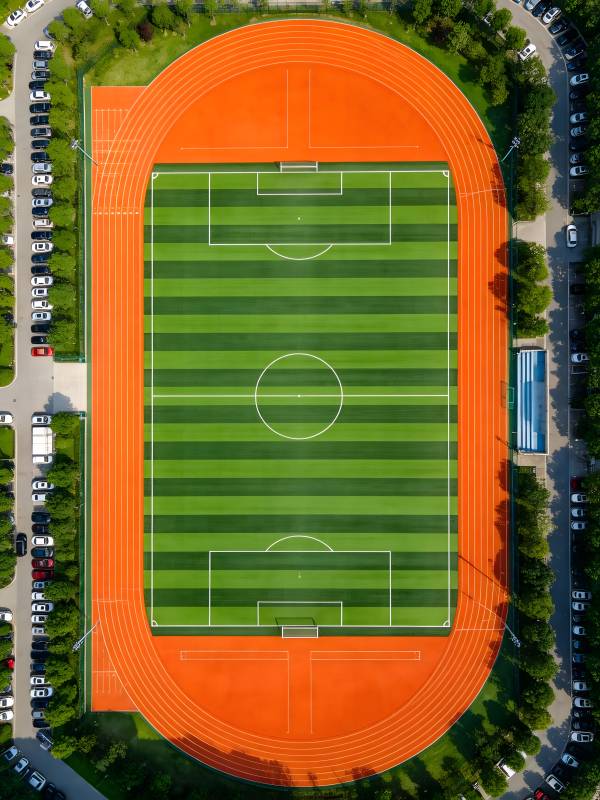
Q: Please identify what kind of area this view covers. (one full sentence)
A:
The area seen from above is a sports ground.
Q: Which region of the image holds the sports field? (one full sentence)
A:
The sports field is located in the center region of the scene.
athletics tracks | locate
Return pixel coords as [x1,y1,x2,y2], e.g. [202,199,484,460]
[86,17,517,792]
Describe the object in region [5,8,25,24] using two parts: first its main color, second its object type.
white car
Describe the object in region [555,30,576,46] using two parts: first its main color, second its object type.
black car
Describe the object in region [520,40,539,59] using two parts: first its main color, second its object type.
white car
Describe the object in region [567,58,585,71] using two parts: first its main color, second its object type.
black vehicle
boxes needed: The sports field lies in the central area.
[144,163,459,636]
